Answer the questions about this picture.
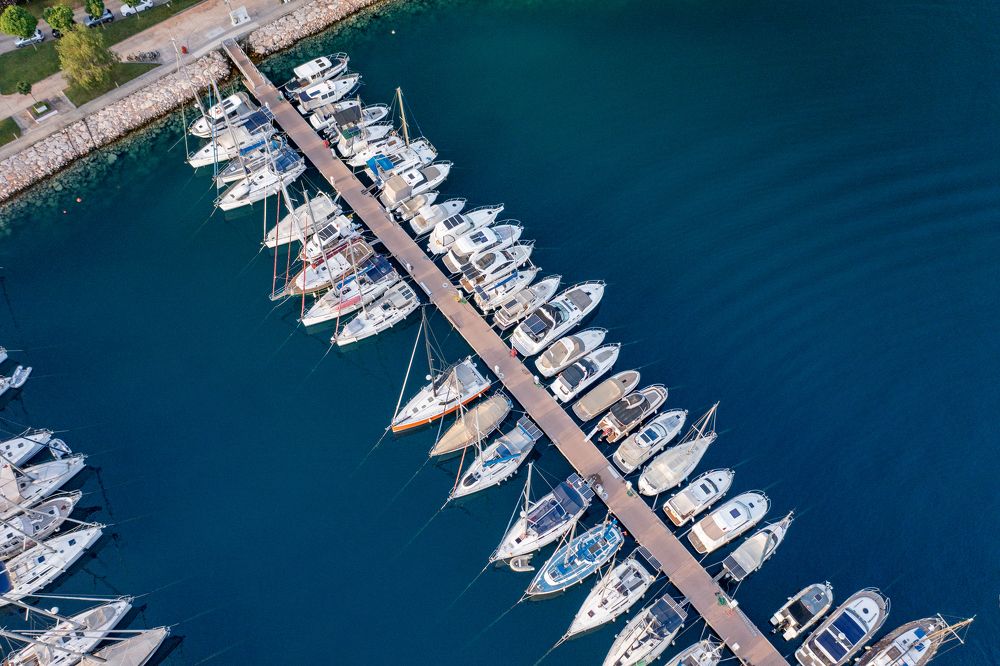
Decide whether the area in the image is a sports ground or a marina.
marina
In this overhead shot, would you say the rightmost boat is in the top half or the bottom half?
bottom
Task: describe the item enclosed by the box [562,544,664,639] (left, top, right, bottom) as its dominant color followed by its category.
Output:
white boat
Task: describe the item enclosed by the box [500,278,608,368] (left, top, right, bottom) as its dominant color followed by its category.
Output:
white boat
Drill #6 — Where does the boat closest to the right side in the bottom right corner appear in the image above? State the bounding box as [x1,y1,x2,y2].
[848,615,973,666]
